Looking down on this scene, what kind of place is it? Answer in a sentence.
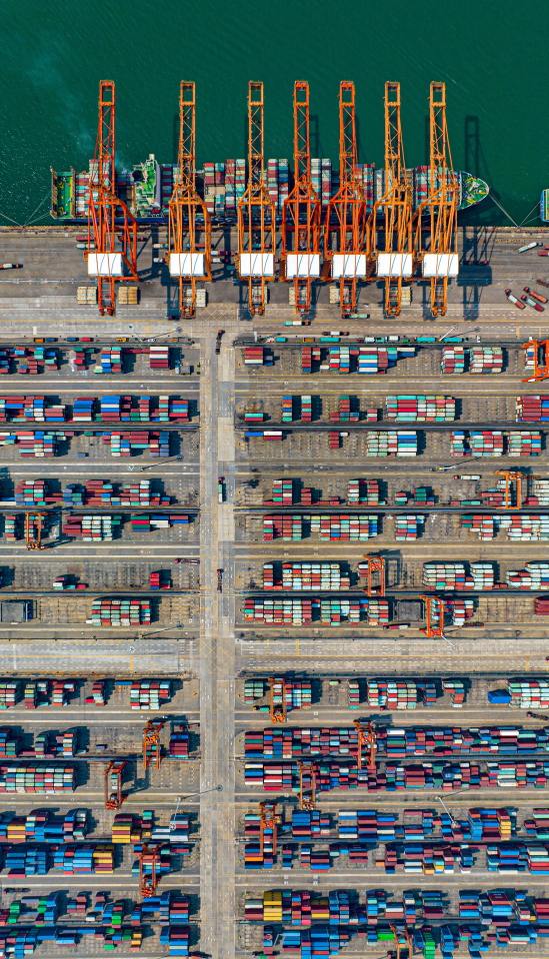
It's a port.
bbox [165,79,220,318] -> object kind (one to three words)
container crane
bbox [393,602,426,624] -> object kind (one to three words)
shed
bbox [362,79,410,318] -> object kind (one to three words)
container crane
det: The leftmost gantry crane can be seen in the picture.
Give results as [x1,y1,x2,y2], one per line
[26,510,55,558]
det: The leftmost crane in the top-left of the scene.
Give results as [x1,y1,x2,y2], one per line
[84,79,149,318]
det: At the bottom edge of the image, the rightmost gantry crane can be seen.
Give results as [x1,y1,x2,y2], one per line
[384,923,408,959]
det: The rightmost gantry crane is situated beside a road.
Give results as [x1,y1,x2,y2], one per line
[515,334,546,383]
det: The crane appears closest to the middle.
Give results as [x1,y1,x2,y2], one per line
[360,553,382,598]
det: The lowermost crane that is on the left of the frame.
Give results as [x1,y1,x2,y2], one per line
[141,841,165,904]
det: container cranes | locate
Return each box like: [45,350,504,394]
[165,79,220,318]
[277,79,319,318]
[362,79,410,318]
[143,716,168,770]
[295,757,316,815]
[141,841,165,904]
[384,923,408,959]
[258,804,278,863]
[490,470,519,514]
[267,677,288,731]
[233,79,278,318]
[351,716,375,770]
[415,595,440,643]
[515,334,546,383]
[26,510,55,558]
[403,79,457,318]
[319,79,365,318]
[360,553,382,598]
[107,757,133,814]
[84,79,149,318]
